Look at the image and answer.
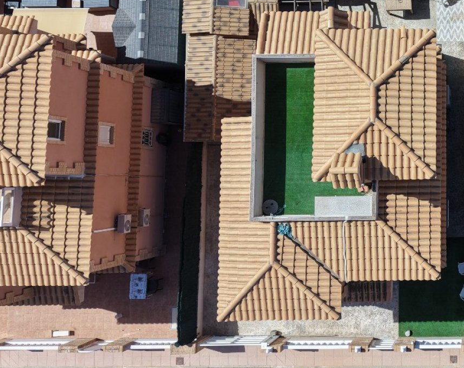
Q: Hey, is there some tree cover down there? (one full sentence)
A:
No, the picture contains no tree cover.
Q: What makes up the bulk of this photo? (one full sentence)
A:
The largest share of the image is taken up by buildings.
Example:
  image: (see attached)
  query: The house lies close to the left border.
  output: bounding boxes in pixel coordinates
[0,8,161,310]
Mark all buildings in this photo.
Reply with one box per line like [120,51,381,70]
[213,2,453,323]
[0,8,161,310]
